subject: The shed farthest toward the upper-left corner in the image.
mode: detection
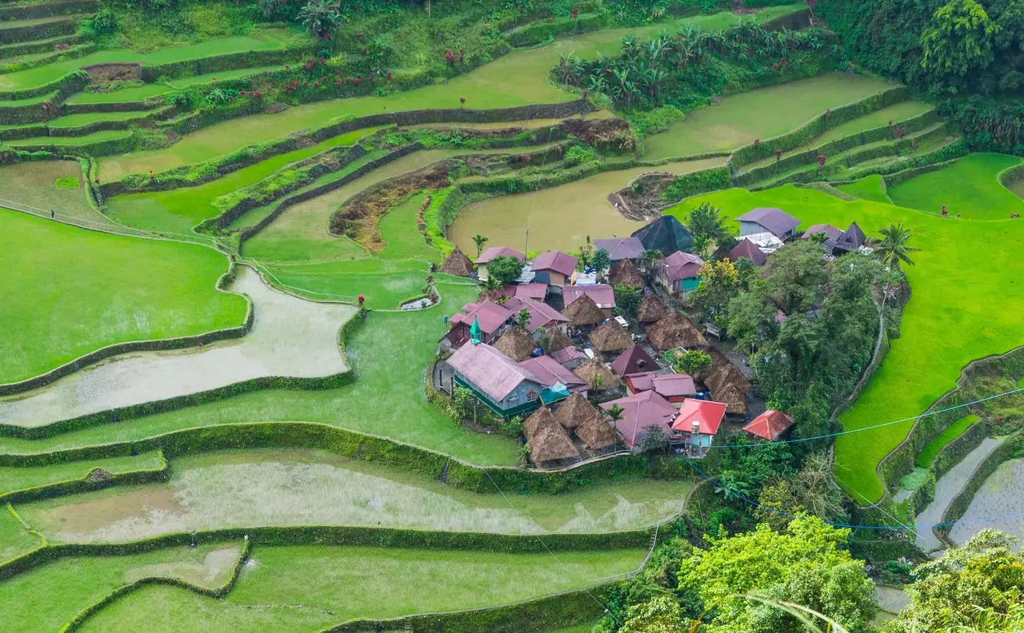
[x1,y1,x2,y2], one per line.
[435,244,477,280]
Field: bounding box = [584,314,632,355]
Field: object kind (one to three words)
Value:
shed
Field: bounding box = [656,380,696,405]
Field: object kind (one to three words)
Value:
house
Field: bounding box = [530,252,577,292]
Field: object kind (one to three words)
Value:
house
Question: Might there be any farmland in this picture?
Yes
